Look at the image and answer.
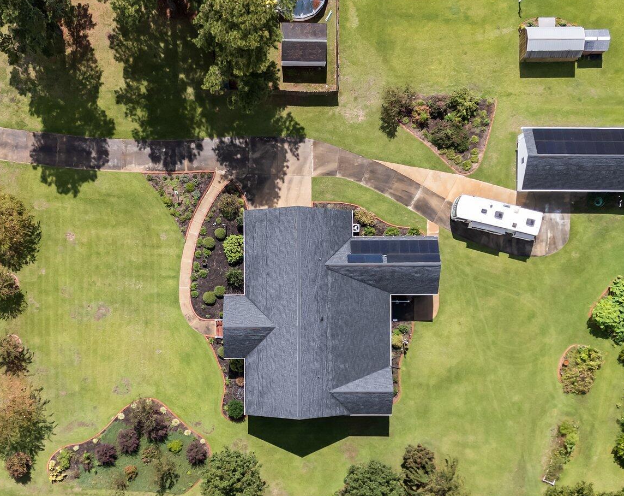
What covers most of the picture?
grass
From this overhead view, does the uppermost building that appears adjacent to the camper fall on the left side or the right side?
right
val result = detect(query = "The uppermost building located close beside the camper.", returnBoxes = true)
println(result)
[518,127,624,192]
